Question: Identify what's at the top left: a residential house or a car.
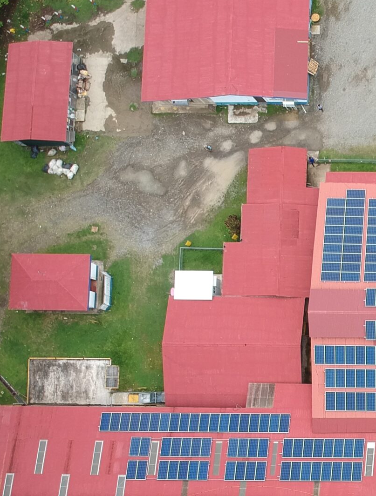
residential house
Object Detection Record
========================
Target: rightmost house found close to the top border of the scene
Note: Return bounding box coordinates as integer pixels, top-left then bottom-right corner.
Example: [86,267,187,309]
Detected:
[142,0,313,118]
